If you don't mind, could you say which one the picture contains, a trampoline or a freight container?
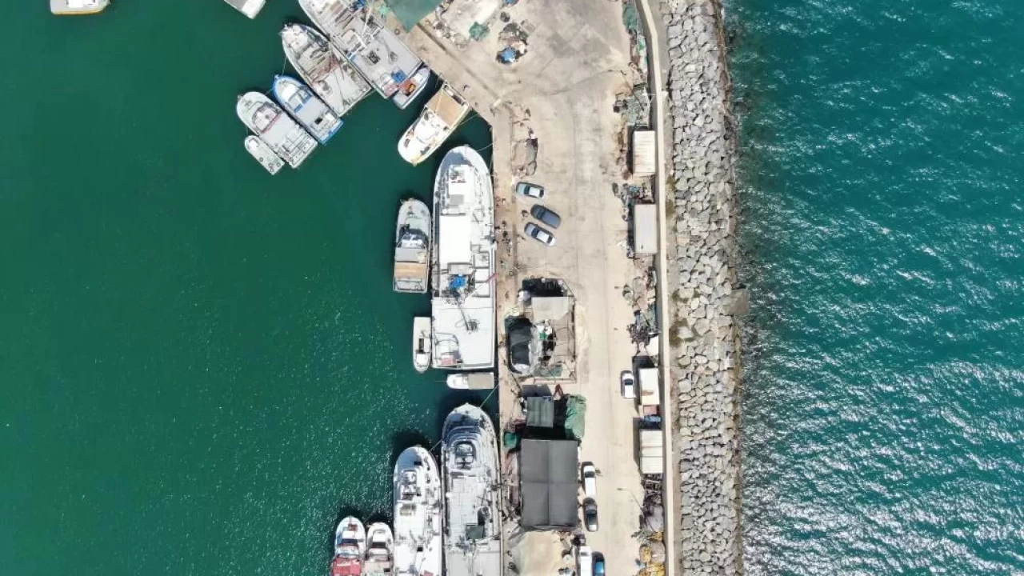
freight container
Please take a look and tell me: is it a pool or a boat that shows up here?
boat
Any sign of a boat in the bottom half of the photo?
Yes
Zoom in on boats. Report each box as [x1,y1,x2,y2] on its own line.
[238,92,318,168]
[413,314,430,373]
[50,0,114,17]
[227,0,265,21]
[433,144,498,370]
[303,0,422,97]
[385,445,441,576]
[281,20,373,118]
[447,372,494,389]
[396,66,431,109]
[273,74,346,146]
[333,514,365,576]
[394,199,430,292]
[404,79,470,166]
[245,136,285,176]
[364,522,393,576]
[440,402,504,576]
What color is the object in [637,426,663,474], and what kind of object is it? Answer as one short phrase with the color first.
white shipping container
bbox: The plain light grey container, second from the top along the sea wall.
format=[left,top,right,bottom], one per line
[631,204,657,255]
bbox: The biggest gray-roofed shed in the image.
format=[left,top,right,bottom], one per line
[519,433,578,530]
